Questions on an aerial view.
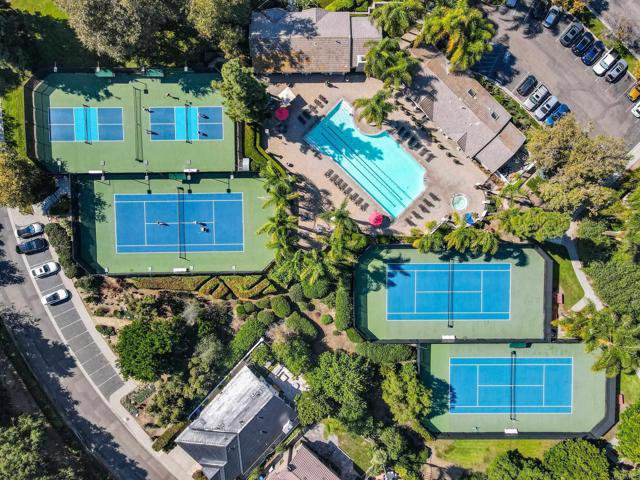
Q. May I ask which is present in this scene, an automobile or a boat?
automobile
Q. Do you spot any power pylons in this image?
No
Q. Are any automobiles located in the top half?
Yes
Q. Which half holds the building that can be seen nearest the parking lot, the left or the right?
right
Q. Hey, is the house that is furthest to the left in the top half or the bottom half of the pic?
bottom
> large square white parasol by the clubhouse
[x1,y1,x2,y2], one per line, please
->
[276,85,298,107]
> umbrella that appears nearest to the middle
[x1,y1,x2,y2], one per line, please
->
[369,212,383,226]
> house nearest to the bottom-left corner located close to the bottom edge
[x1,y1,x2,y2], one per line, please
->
[176,366,298,480]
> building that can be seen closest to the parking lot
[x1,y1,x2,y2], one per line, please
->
[397,49,526,173]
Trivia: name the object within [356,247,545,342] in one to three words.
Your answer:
tennis court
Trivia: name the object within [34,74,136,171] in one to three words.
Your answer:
sports court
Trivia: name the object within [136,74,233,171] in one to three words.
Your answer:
sports court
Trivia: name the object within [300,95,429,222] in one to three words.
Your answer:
swimming pool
